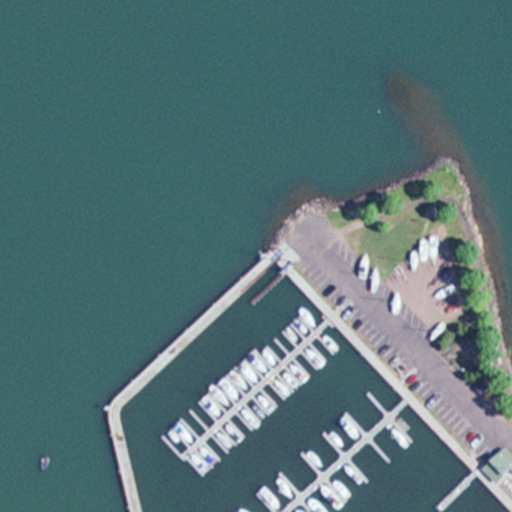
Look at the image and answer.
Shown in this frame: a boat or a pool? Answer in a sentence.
The image shows a boat.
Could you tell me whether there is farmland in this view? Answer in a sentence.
No, there's no farmland in this view.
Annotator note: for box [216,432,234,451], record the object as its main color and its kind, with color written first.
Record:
white boat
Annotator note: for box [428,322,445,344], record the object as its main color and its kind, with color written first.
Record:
white boat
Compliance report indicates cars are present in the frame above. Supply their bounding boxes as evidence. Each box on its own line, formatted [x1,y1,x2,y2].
[354,316,366,327]
[464,434,476,444]
[428,394,440,406]
[380,343,392,354]
[343,304,355,316]
[334,296,345,306]
[470,437,483,450]
[324,284,336,296]
[412,378,423,389]
[390,354,402,366]
[406,372,418,384]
